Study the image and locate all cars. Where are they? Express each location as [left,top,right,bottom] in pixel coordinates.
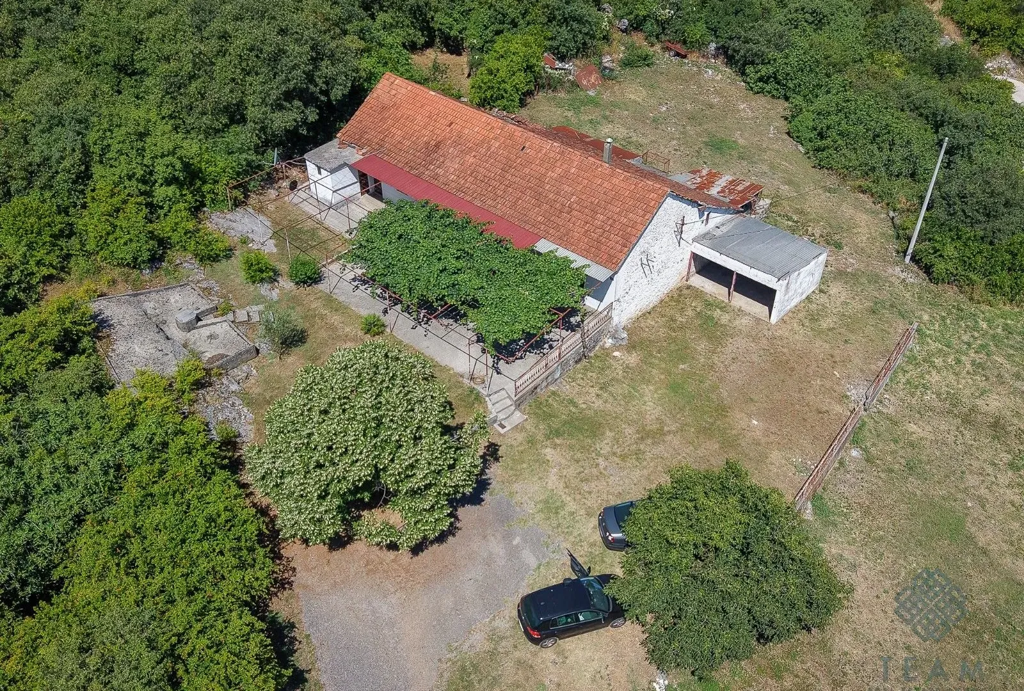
[598,499,650,555]
[513,547,636,646]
